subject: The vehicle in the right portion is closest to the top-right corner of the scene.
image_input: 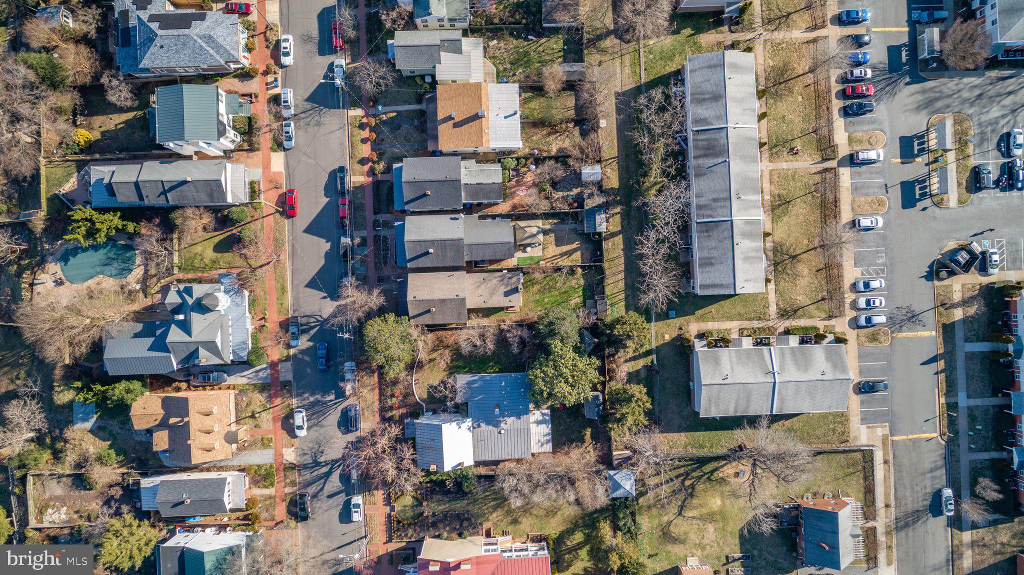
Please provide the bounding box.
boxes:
[916,10,950,24]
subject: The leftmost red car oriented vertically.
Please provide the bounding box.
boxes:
[285,188,299,217]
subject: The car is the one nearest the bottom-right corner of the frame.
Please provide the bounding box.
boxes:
[939,486,955,516]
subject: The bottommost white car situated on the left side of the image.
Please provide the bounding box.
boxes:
[349,494,363,522]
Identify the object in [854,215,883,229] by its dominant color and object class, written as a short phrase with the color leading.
white car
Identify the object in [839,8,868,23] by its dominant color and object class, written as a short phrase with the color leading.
blue car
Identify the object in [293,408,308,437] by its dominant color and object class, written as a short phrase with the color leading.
white car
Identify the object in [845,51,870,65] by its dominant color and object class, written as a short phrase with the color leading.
blue car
